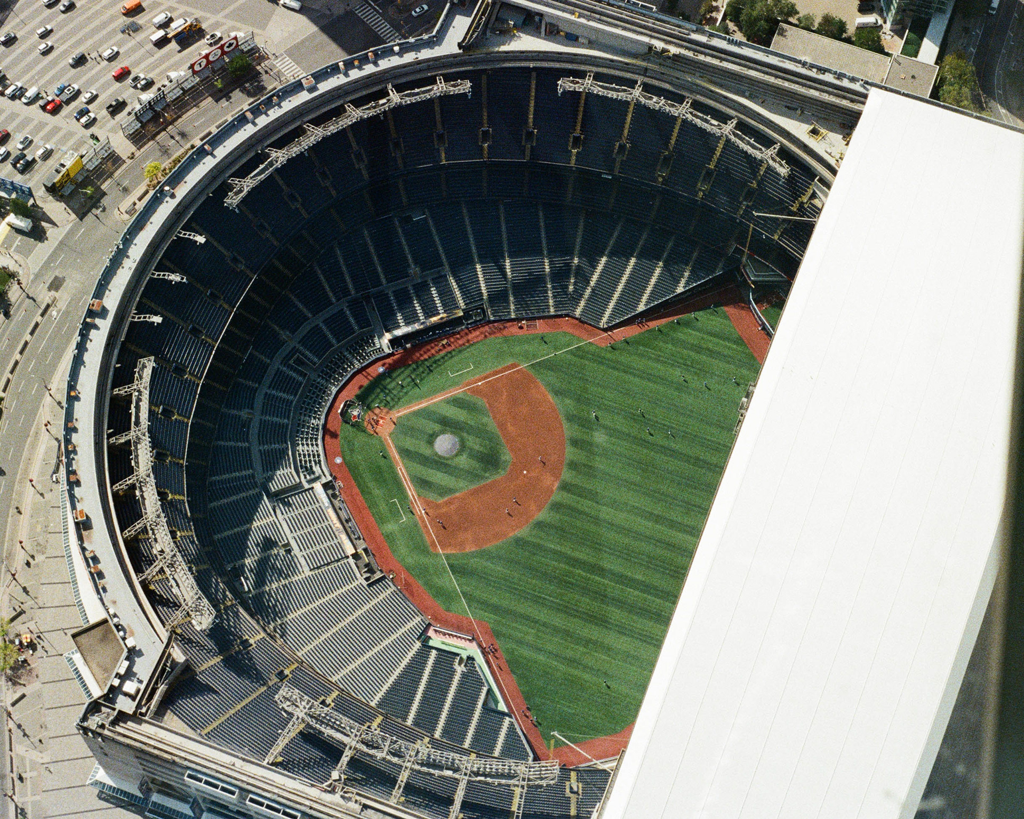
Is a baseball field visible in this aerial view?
Yes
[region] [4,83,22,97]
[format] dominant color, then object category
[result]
white car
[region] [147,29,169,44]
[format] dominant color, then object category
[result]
white vehicle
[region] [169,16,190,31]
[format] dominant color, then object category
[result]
white vehicle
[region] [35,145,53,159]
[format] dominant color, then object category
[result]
white car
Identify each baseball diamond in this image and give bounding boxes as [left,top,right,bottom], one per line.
[323,269,769,767]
